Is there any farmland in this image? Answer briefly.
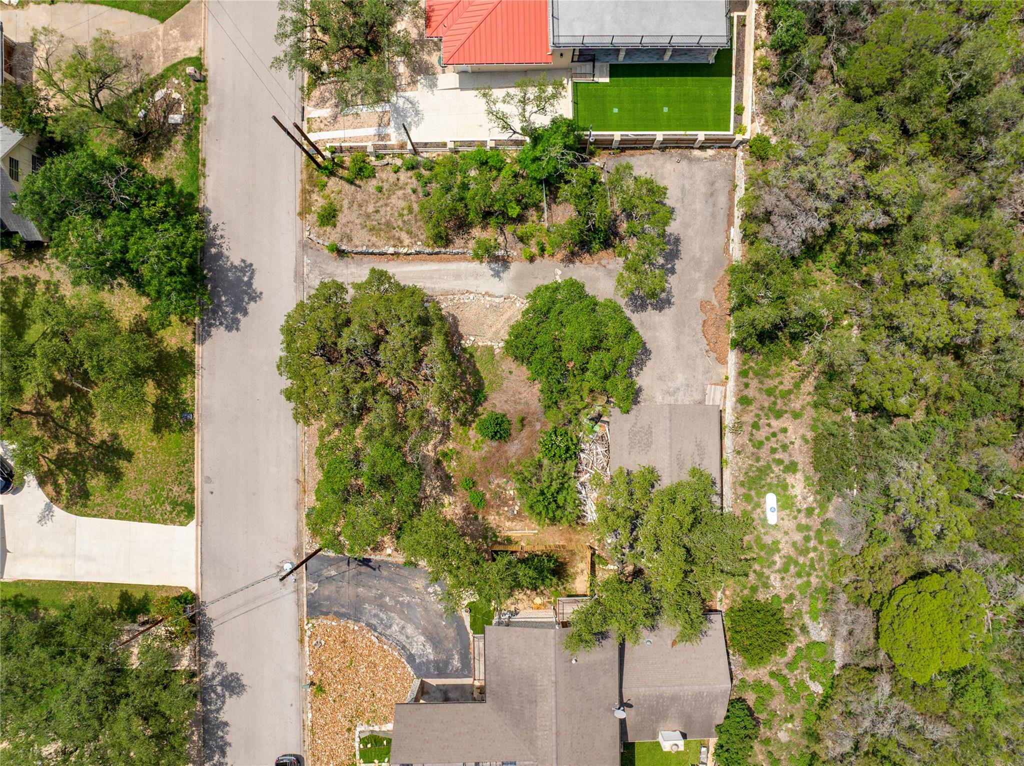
No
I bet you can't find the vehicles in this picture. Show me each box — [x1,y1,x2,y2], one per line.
[0,463,11,490]
[277,754,301,766]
